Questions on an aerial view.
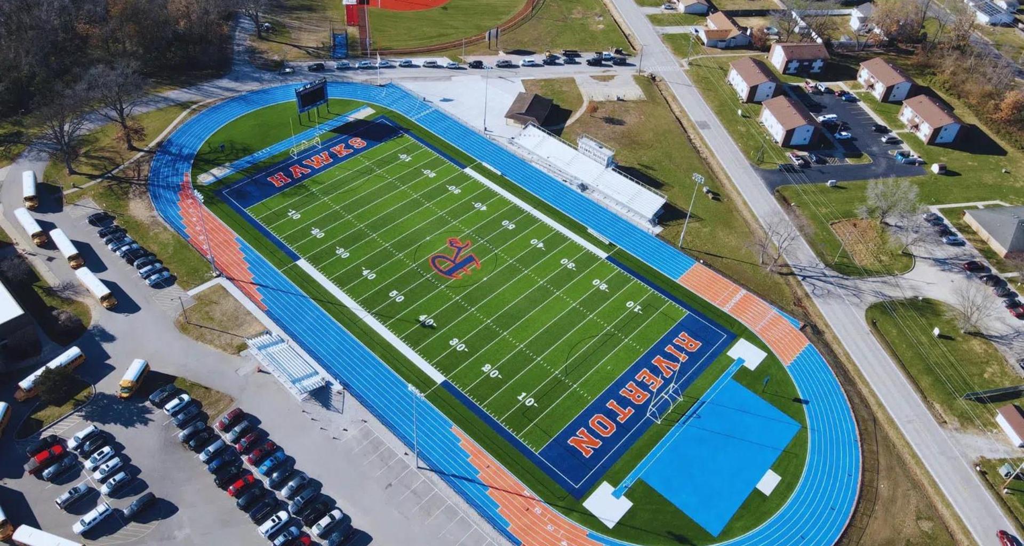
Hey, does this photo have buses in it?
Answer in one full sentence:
Yes, the image includes a bus.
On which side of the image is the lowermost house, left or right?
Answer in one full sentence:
The lowermost house sits on the right side.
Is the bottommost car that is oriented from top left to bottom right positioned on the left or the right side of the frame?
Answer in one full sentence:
You can find the bottommost car that is oriented from top left to bottom right on the right side of the picture.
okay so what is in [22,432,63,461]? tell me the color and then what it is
black truck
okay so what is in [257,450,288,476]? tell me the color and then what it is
blue car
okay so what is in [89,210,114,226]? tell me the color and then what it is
black car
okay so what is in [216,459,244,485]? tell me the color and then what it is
black car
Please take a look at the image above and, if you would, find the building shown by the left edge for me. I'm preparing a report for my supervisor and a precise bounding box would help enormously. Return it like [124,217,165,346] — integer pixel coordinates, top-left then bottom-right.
[0,280,39,357]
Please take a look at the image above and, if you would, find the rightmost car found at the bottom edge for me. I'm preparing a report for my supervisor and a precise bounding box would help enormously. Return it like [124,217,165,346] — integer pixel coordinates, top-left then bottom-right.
[994,526,1019,546]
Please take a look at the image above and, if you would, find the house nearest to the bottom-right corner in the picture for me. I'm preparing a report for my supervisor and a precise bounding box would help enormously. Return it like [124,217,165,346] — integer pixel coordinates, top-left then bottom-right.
[994,400,1024,448]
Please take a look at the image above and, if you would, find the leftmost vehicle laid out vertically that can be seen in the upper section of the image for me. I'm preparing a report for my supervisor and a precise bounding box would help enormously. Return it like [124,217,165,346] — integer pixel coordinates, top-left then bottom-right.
[23,171,42,212]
